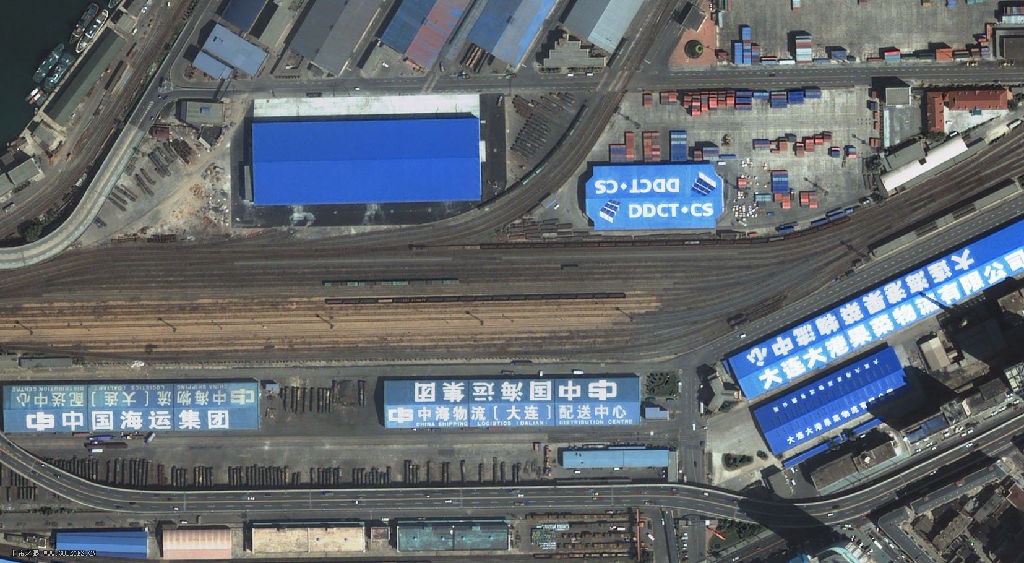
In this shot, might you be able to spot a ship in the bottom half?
No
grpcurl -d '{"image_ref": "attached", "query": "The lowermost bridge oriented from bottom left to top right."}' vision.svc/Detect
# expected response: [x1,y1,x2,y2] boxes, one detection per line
[0,100,160,269]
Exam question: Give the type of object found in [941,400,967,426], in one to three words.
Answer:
house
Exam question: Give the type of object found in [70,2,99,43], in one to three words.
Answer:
ship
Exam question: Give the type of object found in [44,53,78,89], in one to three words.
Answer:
ship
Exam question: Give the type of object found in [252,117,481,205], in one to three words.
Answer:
building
